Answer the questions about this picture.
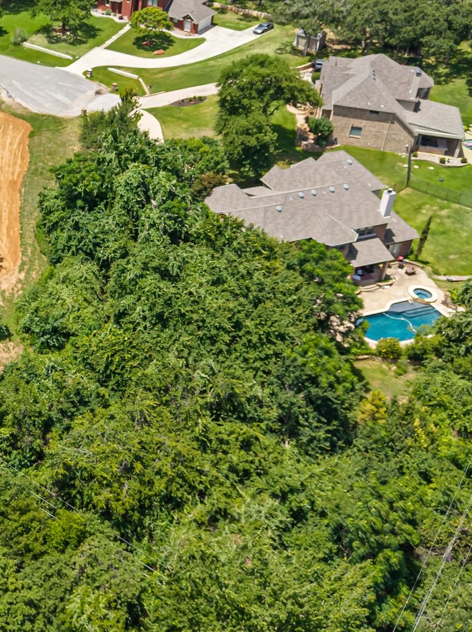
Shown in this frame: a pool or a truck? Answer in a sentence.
The image shows a pool.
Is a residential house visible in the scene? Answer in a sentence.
Yes, I can see a residential house in this picture.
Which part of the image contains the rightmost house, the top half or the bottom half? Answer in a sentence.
You can find the rightmost house in the top half.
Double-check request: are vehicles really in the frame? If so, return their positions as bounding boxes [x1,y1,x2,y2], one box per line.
[251,24,276,35]
[311,58,324,73]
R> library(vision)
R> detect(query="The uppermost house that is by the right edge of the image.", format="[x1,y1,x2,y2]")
[314,53,466,158]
